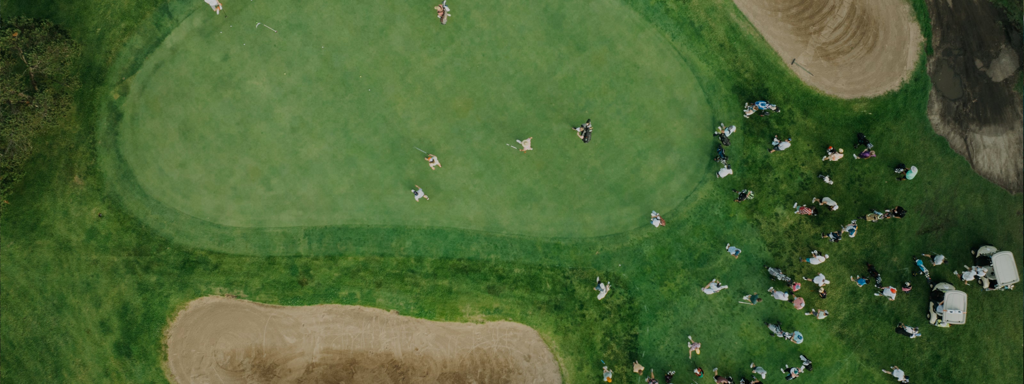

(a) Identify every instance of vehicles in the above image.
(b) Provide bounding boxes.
[925,282,967,324]
[969,244,1020,288]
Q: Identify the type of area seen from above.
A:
golf course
